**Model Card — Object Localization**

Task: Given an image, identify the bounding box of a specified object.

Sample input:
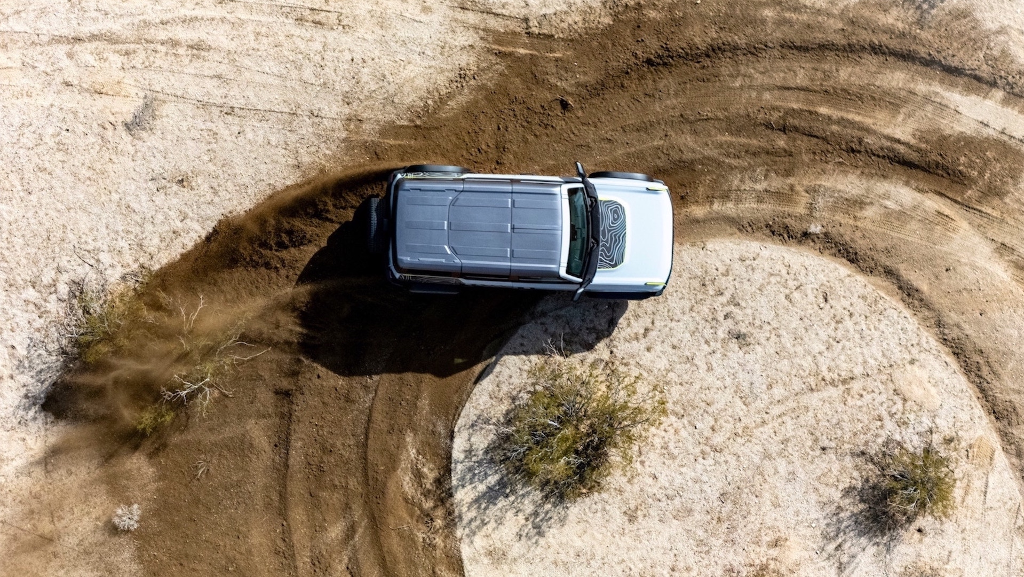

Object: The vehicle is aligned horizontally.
[369,161,674,302]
